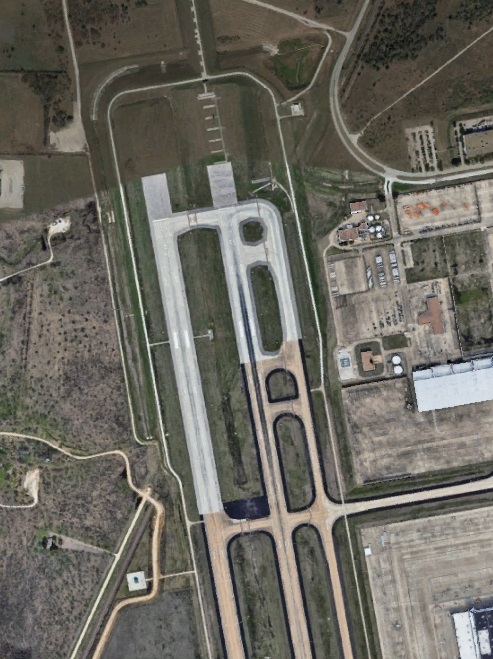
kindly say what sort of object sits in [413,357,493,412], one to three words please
hangar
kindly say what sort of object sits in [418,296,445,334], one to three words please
building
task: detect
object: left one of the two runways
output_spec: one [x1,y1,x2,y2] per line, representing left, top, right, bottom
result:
[152,218,244,659]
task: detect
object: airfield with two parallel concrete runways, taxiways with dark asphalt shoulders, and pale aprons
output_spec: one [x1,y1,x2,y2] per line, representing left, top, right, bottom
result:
[142,161,493,659]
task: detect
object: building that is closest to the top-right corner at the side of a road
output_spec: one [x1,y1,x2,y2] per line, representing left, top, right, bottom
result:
[463,129,493,158]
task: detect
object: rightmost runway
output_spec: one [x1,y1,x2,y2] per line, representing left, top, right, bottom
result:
[218,208,312,659]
